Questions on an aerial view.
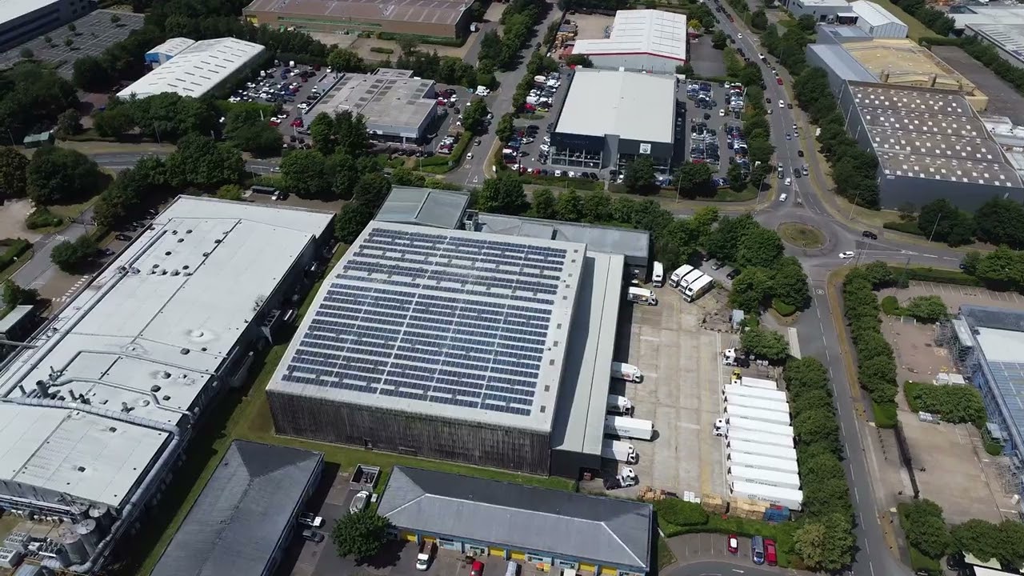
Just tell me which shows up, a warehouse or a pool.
warehouse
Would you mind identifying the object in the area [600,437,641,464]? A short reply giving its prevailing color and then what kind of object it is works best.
white truck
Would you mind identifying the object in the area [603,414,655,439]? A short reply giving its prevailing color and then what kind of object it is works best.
white trailer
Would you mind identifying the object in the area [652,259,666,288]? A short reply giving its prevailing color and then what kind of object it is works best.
white vehicle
